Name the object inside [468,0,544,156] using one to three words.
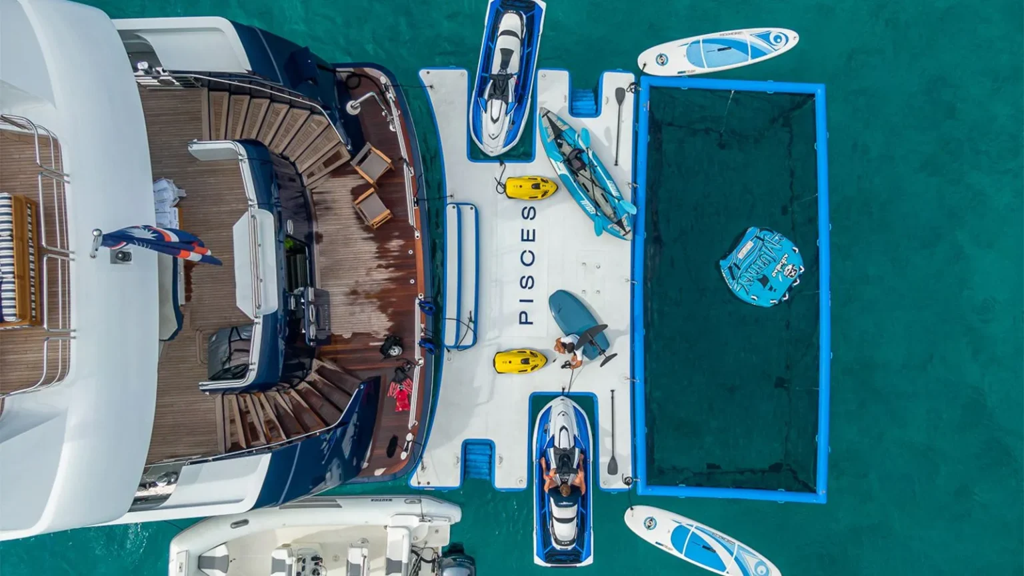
boat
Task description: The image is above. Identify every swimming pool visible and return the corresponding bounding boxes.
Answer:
[634,74,832,504]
